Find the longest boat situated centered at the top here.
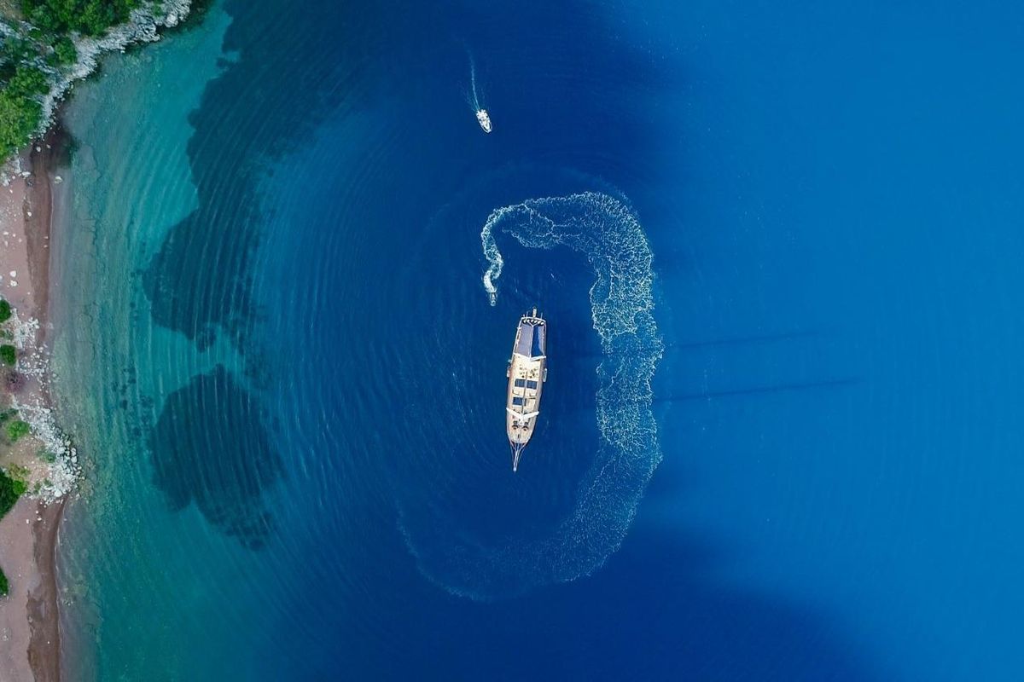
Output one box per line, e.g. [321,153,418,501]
[476,110,491,133]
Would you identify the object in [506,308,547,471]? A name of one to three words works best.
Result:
boat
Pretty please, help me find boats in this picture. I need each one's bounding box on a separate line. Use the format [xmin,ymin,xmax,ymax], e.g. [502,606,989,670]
[506,308,547,471]
[490,292,496,306]
[476,110,491,133]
